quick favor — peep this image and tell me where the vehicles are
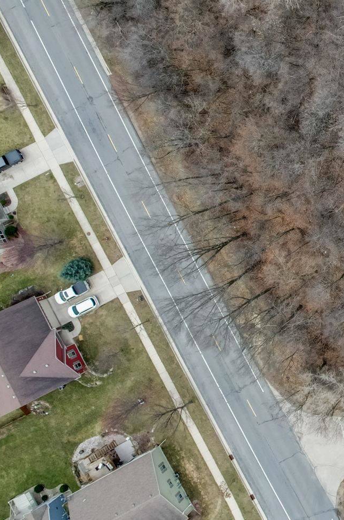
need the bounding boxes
[66,292,103,320]
[52,278,95,306]
[0,146,28,174]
